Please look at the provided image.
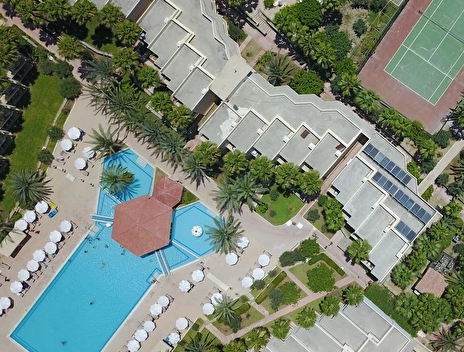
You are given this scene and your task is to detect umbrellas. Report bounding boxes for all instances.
[134,329,147,341]
[241,276,255,289]
[45,241,58,254]
[150,304,163,315]
[73,157,87,169]
[157,295,170,308]
[27,259,41,272]
[49,229,63,243]
[33,249,48,263]
[176,317,189,329]
[179,279,191,292]
[237,236,250,249]
[10,281,25,294]
[0,296,13,309]
[68,128,81,140]
[253,268,265,279]
[202,303,214,315]
[18,269,32,282]
[128,339,140,352]
[23,210,38,223]
[169,332,182,344]
[257,254,270,267]
[15,217,29,230]
[83,145,95,158]
[60,219,73,231]
[225,253,238,265]
[61,138,74,151]
[192,270,204,283]
[144,320,156,333]
[36,200,50,213]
